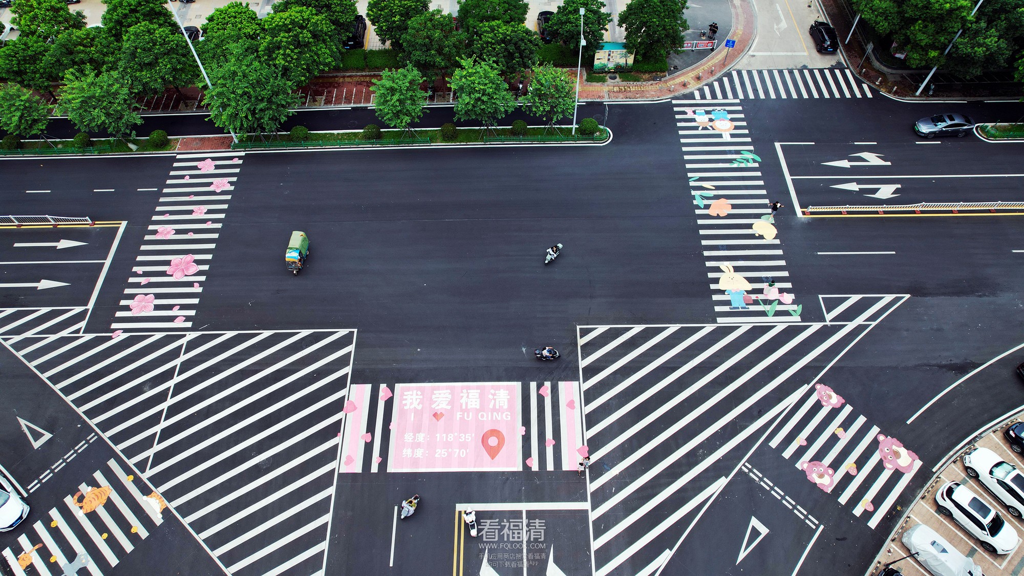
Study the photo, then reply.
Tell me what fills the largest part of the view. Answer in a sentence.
The bulk of the photo consists of paved ground.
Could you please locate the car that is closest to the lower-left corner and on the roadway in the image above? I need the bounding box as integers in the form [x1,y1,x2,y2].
[0,476,24,527]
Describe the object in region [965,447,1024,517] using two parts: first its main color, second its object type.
white car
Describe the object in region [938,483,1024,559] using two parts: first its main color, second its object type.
white car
